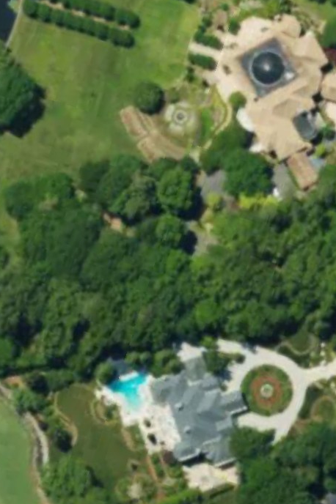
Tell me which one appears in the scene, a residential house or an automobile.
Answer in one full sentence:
This aerial view contains a residential house.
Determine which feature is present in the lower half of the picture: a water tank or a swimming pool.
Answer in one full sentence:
The feature located in the lower half of the picture is a swimming pool.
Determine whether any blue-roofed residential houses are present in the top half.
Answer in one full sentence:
No, in the top half there is no blue-roofed residential house.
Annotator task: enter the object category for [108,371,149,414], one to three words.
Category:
swimming pool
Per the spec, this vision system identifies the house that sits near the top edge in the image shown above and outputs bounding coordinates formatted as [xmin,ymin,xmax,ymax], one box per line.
[234,15,327,163]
